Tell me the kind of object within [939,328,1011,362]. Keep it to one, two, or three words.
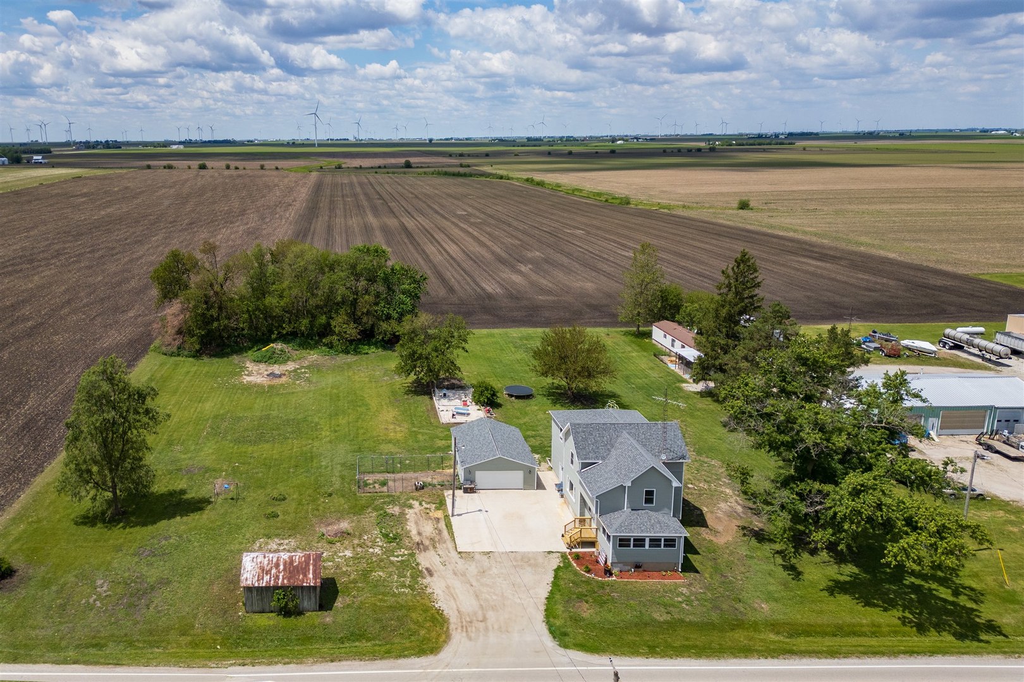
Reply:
trailer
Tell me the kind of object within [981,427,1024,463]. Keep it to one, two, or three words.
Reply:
trailer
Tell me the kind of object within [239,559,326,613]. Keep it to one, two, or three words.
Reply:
shed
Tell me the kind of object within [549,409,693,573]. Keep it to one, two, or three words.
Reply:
house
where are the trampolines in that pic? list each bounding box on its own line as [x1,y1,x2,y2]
[504,382,534,399]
